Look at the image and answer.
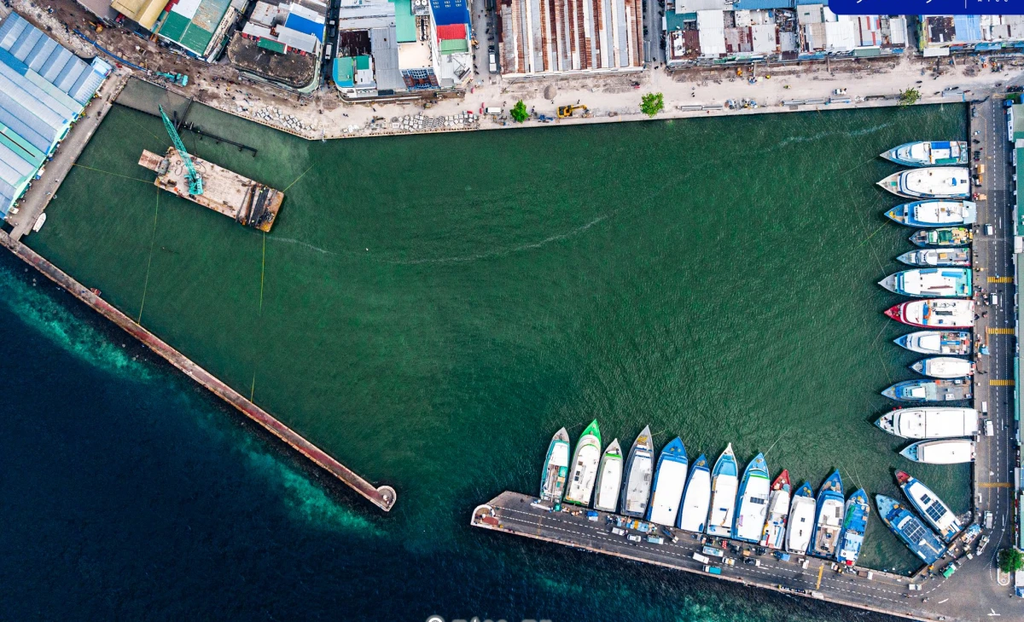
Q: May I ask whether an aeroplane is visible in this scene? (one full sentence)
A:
No, no aeroplane is visible in the view.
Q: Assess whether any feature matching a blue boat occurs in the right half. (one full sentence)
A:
Yes, I can see a blue boat in the right half.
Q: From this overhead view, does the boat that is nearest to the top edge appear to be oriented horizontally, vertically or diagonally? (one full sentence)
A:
Seen from above, the boat that is nearest to the top edge lies horizontally.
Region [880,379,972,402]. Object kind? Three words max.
boat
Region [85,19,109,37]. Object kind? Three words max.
work vehicle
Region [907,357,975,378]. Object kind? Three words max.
boat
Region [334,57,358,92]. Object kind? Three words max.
building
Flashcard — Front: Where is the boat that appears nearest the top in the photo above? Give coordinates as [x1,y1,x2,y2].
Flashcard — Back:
[879,141,969,166]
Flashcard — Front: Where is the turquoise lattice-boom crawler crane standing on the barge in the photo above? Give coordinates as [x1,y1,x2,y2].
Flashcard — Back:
[157,104,207,201]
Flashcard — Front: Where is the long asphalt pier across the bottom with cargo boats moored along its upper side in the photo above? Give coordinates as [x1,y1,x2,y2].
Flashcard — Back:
[471,490,945,622]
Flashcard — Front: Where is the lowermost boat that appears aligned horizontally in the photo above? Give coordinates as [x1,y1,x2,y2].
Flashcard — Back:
[897,439,976,464]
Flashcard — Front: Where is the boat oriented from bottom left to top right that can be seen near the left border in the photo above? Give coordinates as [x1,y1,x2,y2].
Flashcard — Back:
[32,213,45,232]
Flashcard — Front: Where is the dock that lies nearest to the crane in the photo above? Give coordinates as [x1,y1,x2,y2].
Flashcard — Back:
[181,121,258,157]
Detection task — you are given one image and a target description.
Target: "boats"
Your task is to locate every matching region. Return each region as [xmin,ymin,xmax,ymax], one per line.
[32,213,45,232]
[733,453,768,542]
[678,455,710,532]
[622,425,654,517]
[784,482,814,555]
[884,299,975,328]
[707,443,737,538]
[541,428,569,502]
[892,470,963,543]
[897,439,976,464]
[874,495,946,565]
[892,330,971,354]
[879,141,969,166]
[873,406,979,439]
[907,357,975,378]
[834,488,867,566]
[564,419,600,508]
[880,379,972,402]
[760,470,790,549]
[897,248,972,267]
[878,267,973,297]
[875,168,971,198]
[807,470,843,559]
[907,228,973,246]
[648,437,686,526]
[594,439,621,512]
[883,200,977,227]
